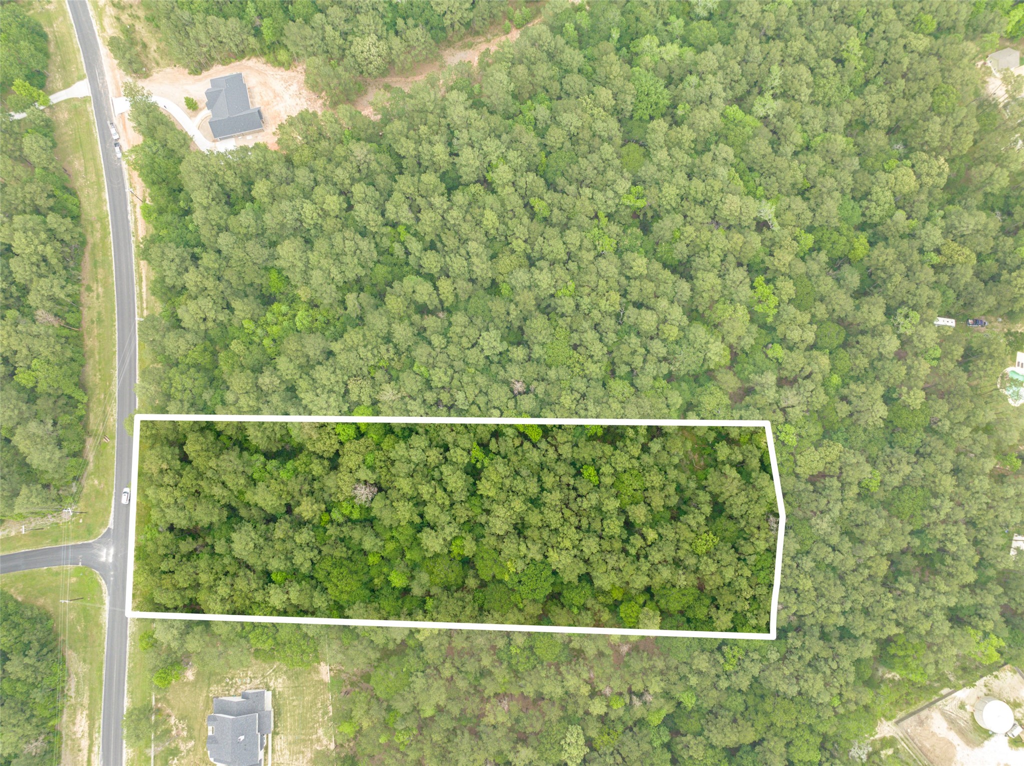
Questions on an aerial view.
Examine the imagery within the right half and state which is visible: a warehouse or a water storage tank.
water storage tank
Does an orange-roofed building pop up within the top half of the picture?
No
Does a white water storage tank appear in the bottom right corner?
Yes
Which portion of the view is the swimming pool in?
right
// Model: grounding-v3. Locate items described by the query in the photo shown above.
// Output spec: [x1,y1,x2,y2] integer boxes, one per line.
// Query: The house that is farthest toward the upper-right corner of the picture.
[986,47,1020,74]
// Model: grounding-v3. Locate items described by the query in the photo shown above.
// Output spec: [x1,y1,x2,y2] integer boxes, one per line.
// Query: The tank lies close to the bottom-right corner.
[973,696,1016,735]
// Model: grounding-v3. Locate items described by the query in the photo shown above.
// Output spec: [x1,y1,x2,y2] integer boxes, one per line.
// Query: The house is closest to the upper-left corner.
[203,74,266,142]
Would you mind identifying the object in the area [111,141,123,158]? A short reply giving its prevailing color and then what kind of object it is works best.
white vehicle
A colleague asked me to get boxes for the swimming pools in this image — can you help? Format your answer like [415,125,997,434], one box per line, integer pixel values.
[997,365,1024,408]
